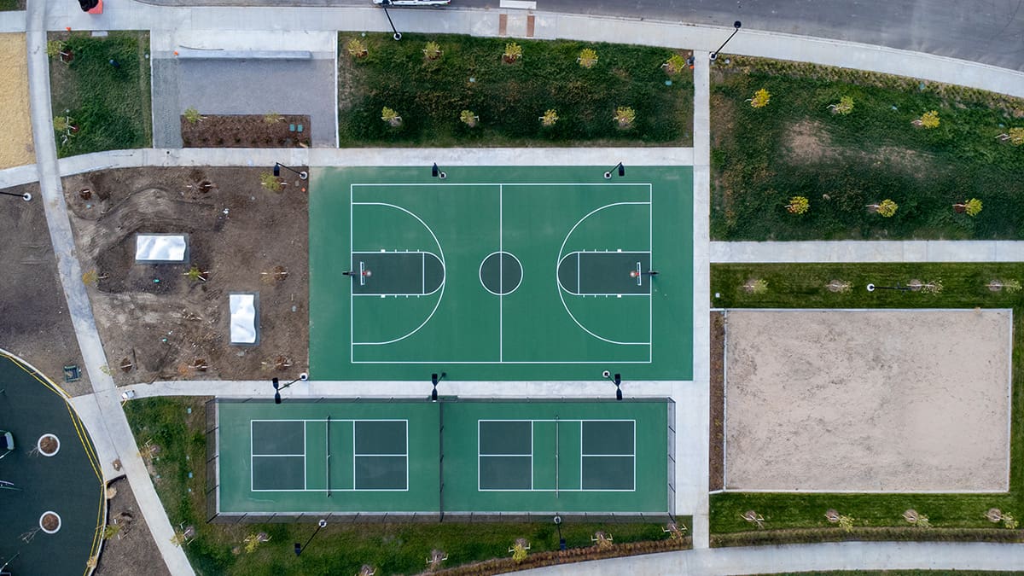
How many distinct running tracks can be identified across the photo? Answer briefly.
0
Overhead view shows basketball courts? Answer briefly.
Yes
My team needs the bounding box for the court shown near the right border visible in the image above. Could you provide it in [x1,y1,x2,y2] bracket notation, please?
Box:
[710,308,1014,496]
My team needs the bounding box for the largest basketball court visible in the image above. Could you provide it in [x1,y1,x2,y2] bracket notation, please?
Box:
[308,166,693,381]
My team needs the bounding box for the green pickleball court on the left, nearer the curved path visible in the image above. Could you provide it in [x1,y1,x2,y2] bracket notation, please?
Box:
[219,395,442,512]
